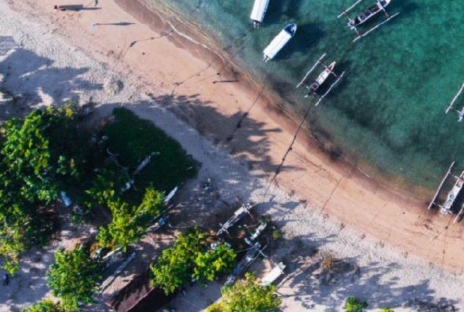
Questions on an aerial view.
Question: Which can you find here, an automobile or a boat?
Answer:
boat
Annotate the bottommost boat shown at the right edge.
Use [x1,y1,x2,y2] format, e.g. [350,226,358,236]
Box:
[429,164,464,222]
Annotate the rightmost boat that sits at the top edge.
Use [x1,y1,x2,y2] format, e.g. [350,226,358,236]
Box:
[338,0,398,41]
